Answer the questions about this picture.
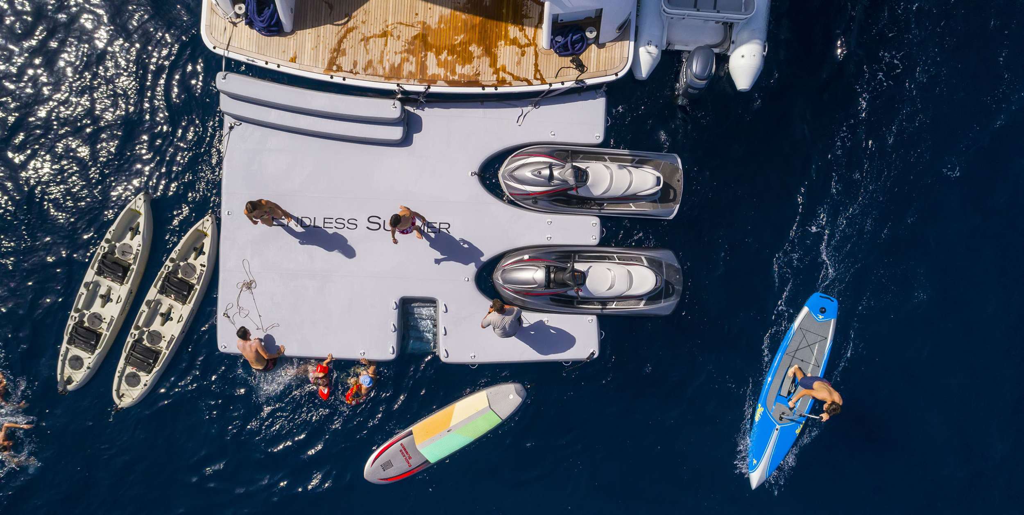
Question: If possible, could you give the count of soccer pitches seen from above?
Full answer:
No soccer pitches are visible.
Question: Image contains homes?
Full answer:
No, I find no home anywhere in the image.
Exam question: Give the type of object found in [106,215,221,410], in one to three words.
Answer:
boat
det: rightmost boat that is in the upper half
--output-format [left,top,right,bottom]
[634,0,773,107]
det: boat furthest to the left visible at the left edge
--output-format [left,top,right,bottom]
[50,193,158,393]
